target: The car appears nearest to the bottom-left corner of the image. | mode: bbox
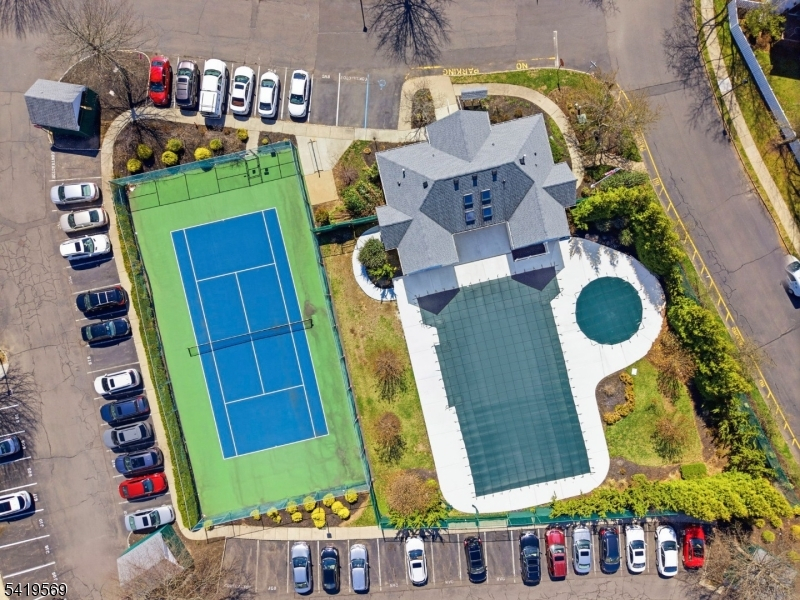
[0,491,36,520]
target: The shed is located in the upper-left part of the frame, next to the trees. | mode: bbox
[24,78,101,138]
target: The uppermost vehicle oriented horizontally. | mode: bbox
[52,180,102,205]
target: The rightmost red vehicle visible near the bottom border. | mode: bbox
[680,523,706,571]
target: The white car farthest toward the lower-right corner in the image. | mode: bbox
[653,524,680,577]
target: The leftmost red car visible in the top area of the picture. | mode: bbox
[147,56,173,105]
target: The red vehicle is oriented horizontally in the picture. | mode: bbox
[117,472,169,499]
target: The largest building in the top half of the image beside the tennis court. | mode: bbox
[375,110,577,275]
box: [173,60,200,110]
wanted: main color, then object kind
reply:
gray car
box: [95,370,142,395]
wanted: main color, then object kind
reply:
white car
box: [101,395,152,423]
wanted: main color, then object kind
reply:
blue car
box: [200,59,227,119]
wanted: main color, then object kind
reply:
white vehicle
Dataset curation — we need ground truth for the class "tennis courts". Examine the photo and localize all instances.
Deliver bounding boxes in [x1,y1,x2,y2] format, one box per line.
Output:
[126,148,367,518]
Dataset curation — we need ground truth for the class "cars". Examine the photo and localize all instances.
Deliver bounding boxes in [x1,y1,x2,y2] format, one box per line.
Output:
[287,70,310,119]
[52,180,102,205]
[543,528,570,581]
[230,66,255,116]
[289,541,313,594]
[101,395,152,423]
[117,472,169,499]
[598,526,623,573]
[462,533,488,583]
[517,530,544,586]
[76,286,130,312]
[105,421,155,449]
[95,370,142,395]
[318,544,340,593]
[780,255,800,301]
[404,534,427,586]
[173,60,200,110]
[0,491,36,520]
[653,524,680,577]
[116,448,166,476]
[570,526,595,576]
[61,209,110,232]
[147,56,173,105]
[680,523,706,571]
[623,523,648,573]
[80,318,132,343]
[257,72,280,120]
[59,233,111,259]
[348,542,370,591]
[123,504,176,531]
